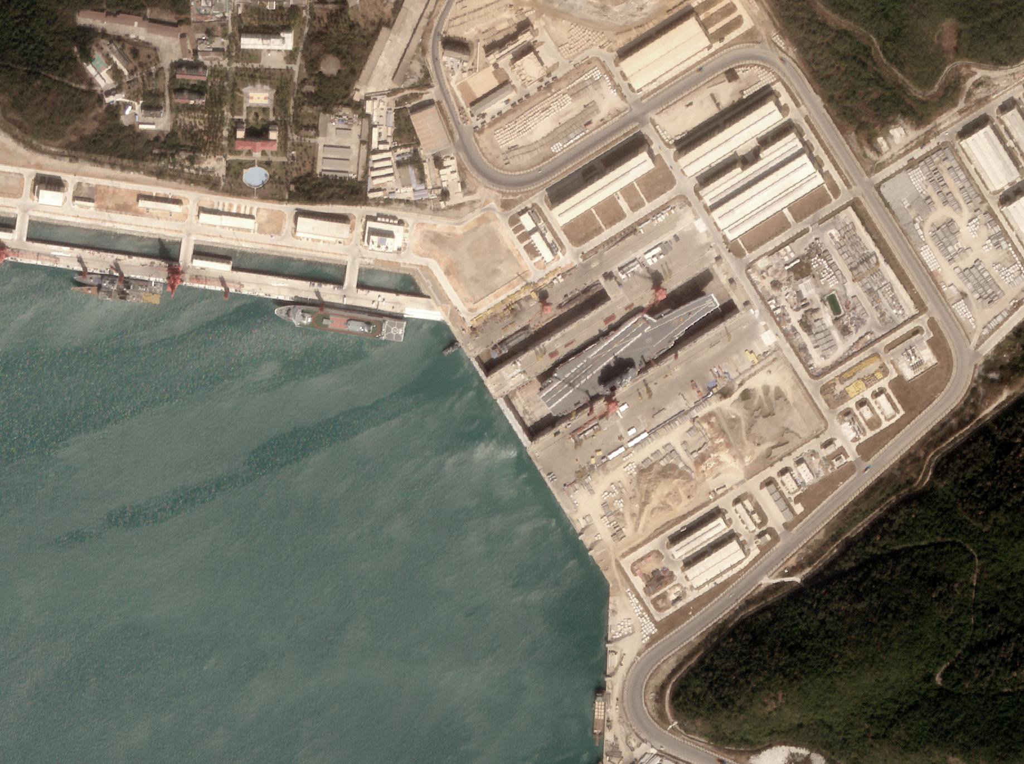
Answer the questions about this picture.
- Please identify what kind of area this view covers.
port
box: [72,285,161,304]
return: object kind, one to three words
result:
ship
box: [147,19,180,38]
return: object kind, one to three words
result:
shed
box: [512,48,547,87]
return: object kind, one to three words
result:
building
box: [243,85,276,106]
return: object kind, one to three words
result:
sports court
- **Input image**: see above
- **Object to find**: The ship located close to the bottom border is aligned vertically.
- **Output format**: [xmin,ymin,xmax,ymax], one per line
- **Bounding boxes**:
[593,691,605,746]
